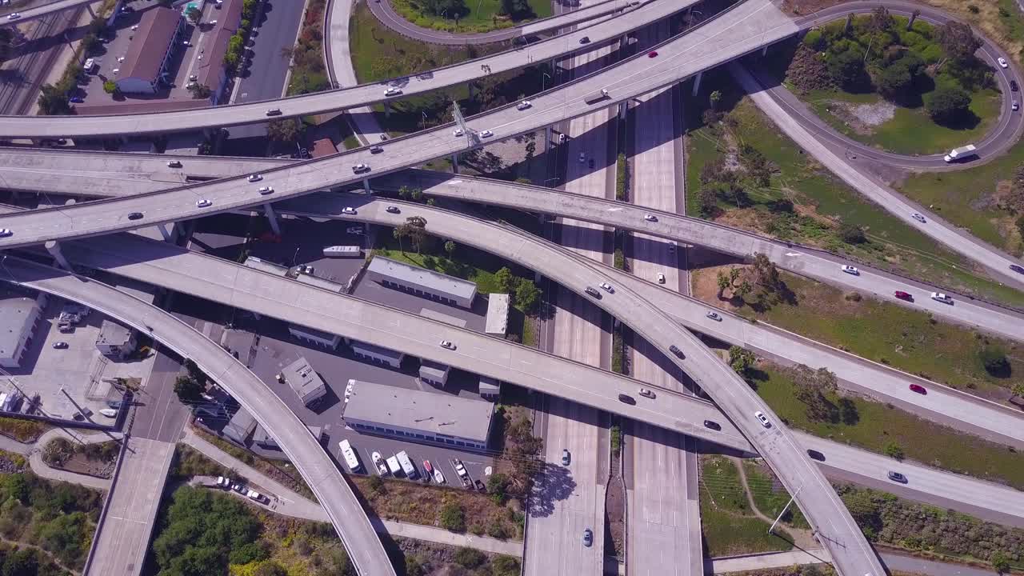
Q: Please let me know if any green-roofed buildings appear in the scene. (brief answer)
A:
No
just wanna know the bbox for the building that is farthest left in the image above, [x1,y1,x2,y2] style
[0,296,43,365]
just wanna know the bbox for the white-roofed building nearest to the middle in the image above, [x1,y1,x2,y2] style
[486,293,508,338]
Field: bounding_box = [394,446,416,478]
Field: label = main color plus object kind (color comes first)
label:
white camper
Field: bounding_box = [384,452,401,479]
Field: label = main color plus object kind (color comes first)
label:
white camper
